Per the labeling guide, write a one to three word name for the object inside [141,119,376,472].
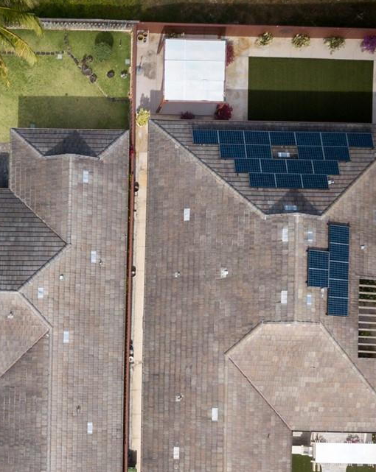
house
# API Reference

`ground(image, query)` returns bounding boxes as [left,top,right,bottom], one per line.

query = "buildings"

[156,38,227,115]
[0,127,131,472]
[141,119,376,472]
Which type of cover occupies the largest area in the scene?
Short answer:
buildings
